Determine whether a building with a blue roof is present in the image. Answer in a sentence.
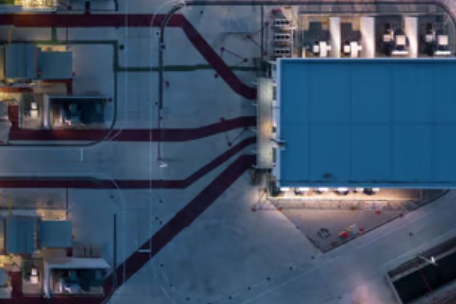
Yes, there is a building with a blue roof in the image.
